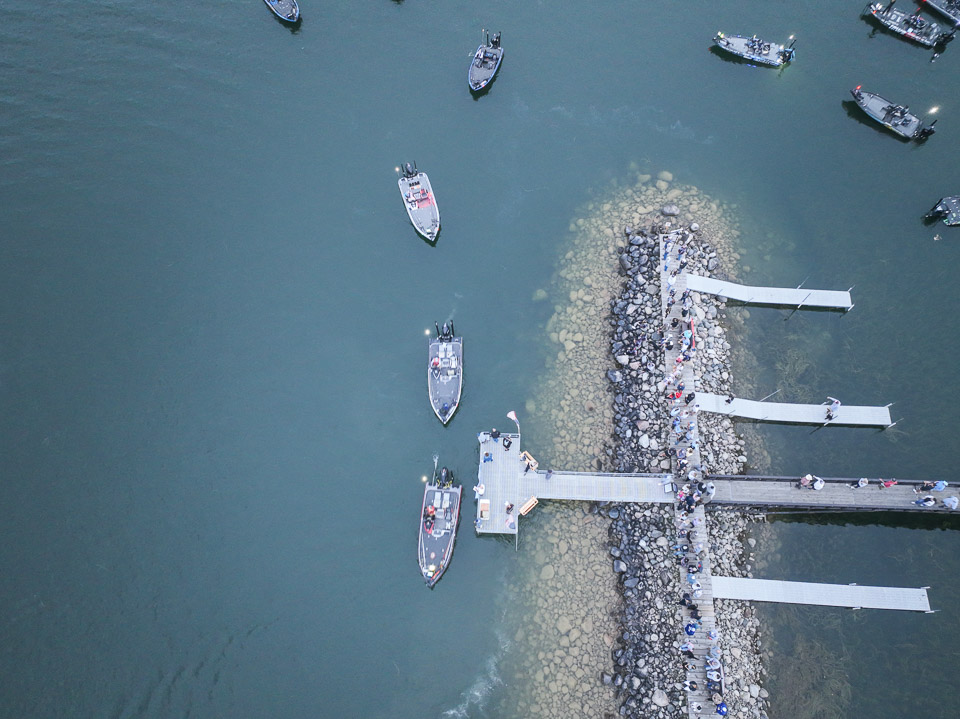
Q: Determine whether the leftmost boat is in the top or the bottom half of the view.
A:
top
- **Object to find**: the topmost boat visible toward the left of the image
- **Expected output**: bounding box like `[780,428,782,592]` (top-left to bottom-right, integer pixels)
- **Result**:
[263,0,300,25]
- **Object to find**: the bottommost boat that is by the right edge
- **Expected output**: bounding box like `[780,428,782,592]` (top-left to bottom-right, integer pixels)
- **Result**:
[926,191,960,224]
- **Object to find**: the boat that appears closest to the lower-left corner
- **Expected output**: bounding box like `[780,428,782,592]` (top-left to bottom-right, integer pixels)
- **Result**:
[420,469,460,587]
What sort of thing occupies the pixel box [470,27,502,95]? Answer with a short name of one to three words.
boat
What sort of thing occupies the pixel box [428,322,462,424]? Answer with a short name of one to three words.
boat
